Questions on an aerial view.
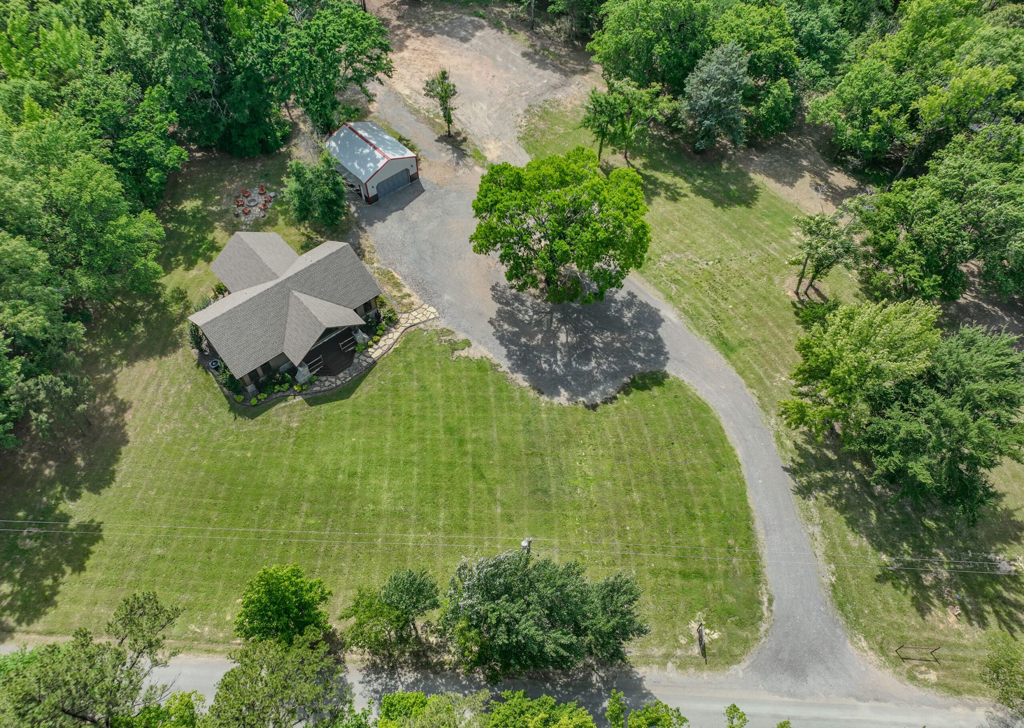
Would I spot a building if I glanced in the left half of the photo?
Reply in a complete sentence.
Yes, a building is visible in the left half of the photo.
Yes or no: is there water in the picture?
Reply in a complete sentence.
No, the scene doesn't show any water.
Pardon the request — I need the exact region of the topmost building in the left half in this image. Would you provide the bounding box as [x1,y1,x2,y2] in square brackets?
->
[322,119,421,206]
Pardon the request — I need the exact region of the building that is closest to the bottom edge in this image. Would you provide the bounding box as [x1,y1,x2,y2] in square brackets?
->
[188,232,382,393]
